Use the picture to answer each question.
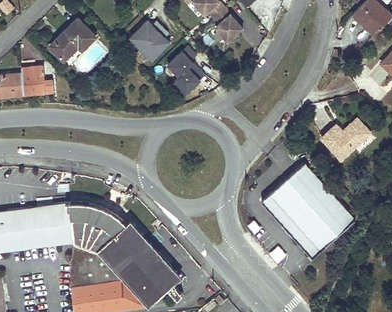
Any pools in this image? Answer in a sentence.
Yes, there's a pool here.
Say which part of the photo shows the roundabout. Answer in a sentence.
The roundabout is located in the center region of the scene.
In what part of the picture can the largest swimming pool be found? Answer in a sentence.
The largest swimming pool appears toward the top left of the photo.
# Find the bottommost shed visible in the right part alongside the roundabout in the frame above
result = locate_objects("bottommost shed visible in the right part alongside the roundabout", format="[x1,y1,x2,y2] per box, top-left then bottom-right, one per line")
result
[264,166,354,256]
